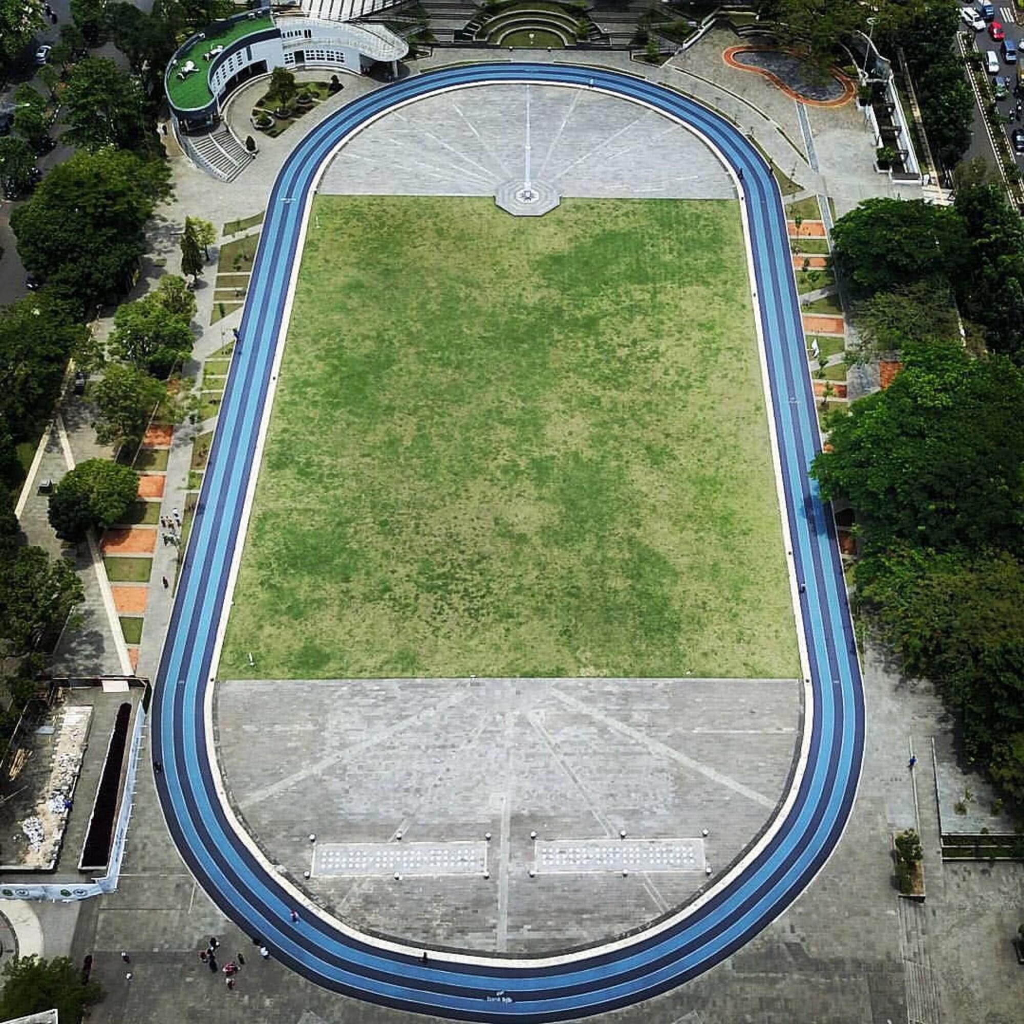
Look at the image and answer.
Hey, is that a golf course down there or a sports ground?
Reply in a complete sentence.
This image shows a sports ground.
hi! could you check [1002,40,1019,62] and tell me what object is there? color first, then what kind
blue vehicle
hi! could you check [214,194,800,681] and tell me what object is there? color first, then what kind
green sports field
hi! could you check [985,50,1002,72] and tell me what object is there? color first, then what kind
white vehicle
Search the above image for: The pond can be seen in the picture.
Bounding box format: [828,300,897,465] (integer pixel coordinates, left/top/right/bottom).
[723,44,855,106]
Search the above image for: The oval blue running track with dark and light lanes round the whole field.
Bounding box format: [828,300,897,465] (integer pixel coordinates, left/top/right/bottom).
[147,61,867,1024]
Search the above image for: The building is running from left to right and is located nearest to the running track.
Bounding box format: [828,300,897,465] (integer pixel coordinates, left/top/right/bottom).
[275,18,409,79]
